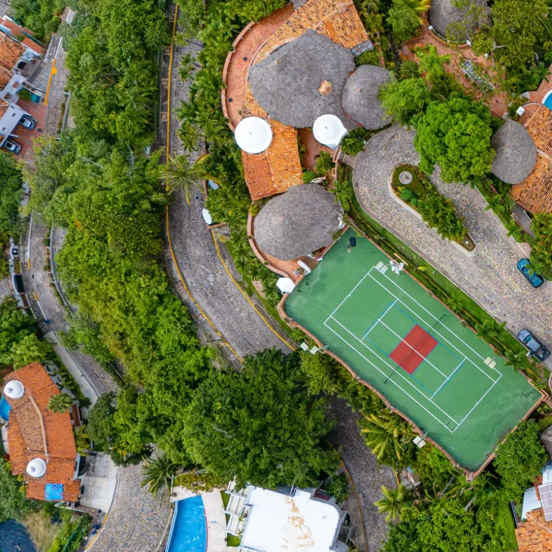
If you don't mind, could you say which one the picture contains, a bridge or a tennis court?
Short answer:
tennis court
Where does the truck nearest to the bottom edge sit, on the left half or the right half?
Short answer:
right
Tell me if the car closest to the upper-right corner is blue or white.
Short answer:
blue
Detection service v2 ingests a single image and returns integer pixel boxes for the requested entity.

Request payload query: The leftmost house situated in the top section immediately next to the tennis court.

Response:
[220,0,395,278]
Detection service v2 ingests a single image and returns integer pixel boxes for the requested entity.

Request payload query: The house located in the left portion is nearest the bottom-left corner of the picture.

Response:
[1,362,86,502]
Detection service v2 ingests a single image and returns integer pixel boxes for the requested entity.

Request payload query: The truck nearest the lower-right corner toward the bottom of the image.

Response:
[516,326,552,366]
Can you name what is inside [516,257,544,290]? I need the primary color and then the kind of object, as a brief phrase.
blue car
